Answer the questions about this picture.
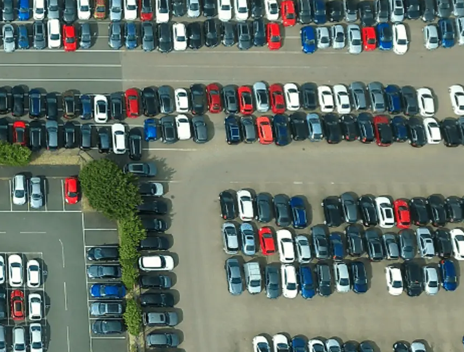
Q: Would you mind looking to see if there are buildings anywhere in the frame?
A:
No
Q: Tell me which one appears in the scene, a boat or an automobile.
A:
automobile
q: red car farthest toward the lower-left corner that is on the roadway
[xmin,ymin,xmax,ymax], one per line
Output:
[11,291,25,320]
